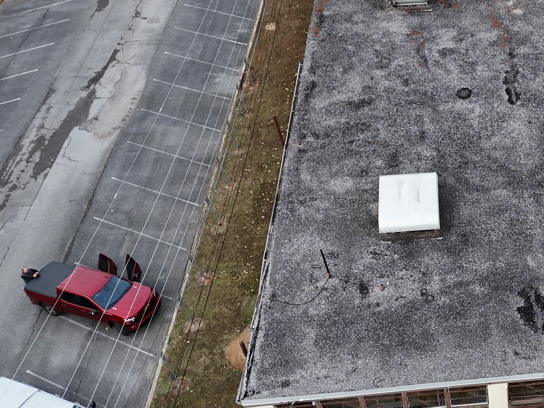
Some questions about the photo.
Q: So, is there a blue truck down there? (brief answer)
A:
No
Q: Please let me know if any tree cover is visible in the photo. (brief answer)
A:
No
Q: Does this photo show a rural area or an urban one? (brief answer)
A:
urban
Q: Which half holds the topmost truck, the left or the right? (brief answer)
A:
left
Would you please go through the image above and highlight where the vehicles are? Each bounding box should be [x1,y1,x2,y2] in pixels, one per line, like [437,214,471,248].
[0,377,81,408]
[24,252,167,336]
